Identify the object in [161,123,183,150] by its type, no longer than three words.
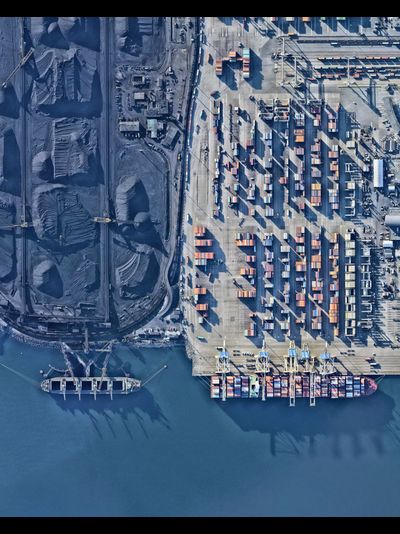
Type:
building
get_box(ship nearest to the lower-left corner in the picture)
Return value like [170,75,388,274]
[41,377,141,401]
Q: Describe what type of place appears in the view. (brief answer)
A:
port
